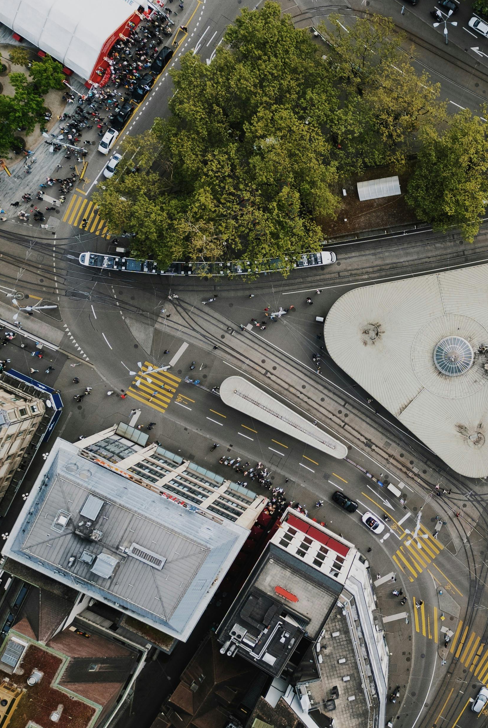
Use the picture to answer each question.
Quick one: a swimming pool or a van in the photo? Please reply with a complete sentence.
It is a van that can be seen here.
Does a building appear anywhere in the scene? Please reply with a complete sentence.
Yes, I can see a building in this picture.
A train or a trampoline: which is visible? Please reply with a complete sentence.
Visible in the photo is a train.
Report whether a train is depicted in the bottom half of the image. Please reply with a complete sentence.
No, looking in the bottom half of the image, there is no train.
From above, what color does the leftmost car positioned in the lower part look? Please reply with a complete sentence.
The color of the leftmost car positioned in the lower part is black.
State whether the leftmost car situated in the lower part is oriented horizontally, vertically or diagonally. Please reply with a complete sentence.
The leftmost car situated in the lower part is laid out diagonally.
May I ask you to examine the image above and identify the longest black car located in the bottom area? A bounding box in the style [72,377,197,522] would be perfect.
[329,488,361,515]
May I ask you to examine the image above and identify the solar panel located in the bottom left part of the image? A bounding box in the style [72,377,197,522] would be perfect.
[0,639,26,668]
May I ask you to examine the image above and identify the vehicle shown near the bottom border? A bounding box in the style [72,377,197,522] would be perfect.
[469,684,488,715]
